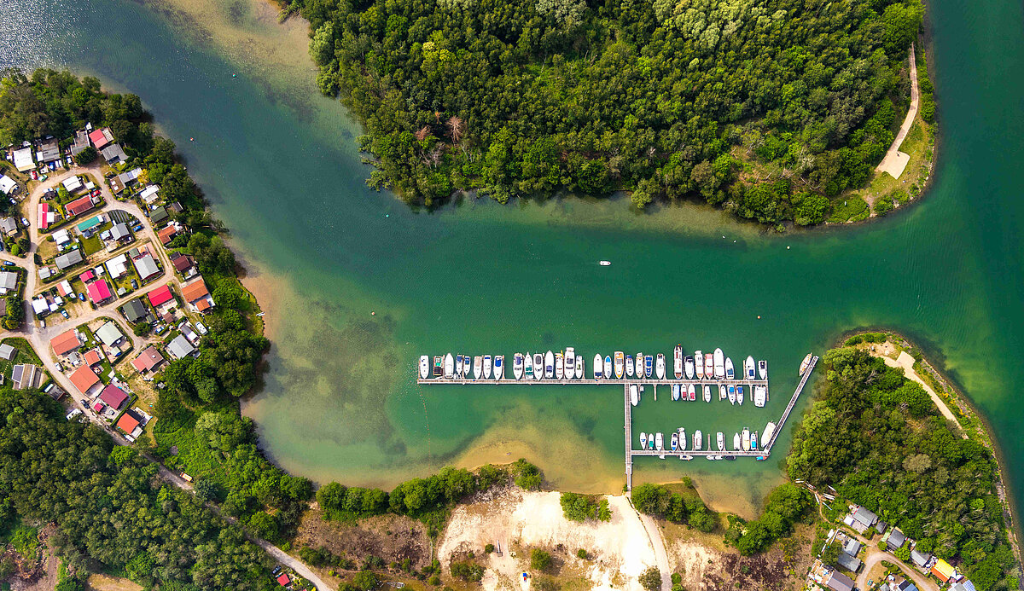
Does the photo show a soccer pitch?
No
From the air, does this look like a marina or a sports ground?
marina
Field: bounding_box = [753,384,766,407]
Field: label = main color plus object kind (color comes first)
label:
white boat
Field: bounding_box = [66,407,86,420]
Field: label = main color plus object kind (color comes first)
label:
white vehicle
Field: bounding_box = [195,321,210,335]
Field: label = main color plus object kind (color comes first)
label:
white camper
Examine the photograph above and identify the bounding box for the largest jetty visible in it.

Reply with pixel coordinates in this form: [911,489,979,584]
[417,356,771,400]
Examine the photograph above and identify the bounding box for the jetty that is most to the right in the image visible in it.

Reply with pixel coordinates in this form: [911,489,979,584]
[763,355,819,452]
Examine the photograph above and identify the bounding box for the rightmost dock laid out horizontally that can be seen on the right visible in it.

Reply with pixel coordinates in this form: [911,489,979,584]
[631,433,771,456]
